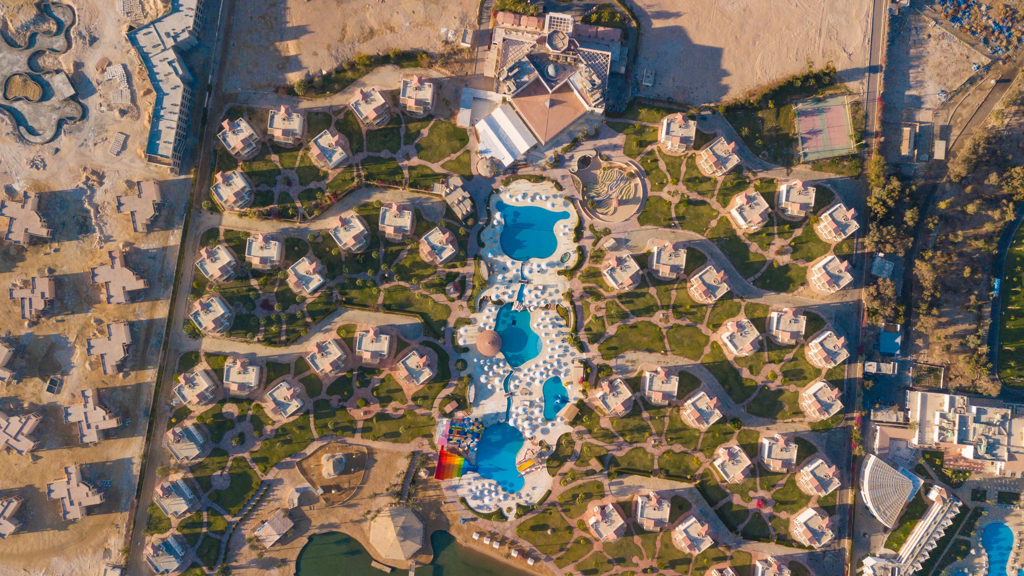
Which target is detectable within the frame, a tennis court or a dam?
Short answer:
tennis court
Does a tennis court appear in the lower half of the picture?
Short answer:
No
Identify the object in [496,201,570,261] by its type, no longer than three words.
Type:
swimming pool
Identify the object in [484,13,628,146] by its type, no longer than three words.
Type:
building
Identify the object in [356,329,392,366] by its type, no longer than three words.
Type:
house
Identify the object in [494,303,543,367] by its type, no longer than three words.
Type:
swimming pool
